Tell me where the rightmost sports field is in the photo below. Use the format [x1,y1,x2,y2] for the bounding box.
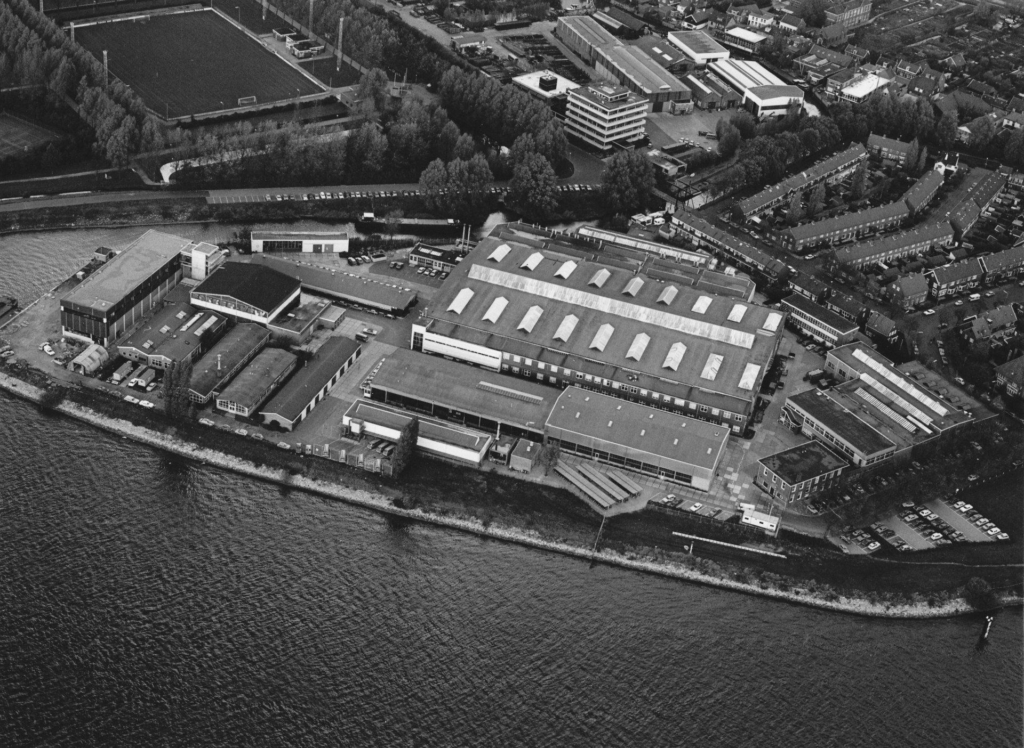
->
[302,57,361,87]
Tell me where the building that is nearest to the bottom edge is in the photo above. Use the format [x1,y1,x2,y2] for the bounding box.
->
[741,508,778,532]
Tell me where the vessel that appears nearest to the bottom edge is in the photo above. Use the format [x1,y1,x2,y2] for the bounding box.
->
[0,298,21,321]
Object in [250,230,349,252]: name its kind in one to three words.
building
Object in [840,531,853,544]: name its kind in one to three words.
vehicle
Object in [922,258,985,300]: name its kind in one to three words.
house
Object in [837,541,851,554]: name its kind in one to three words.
vehicle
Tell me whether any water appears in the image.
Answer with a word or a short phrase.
Yes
